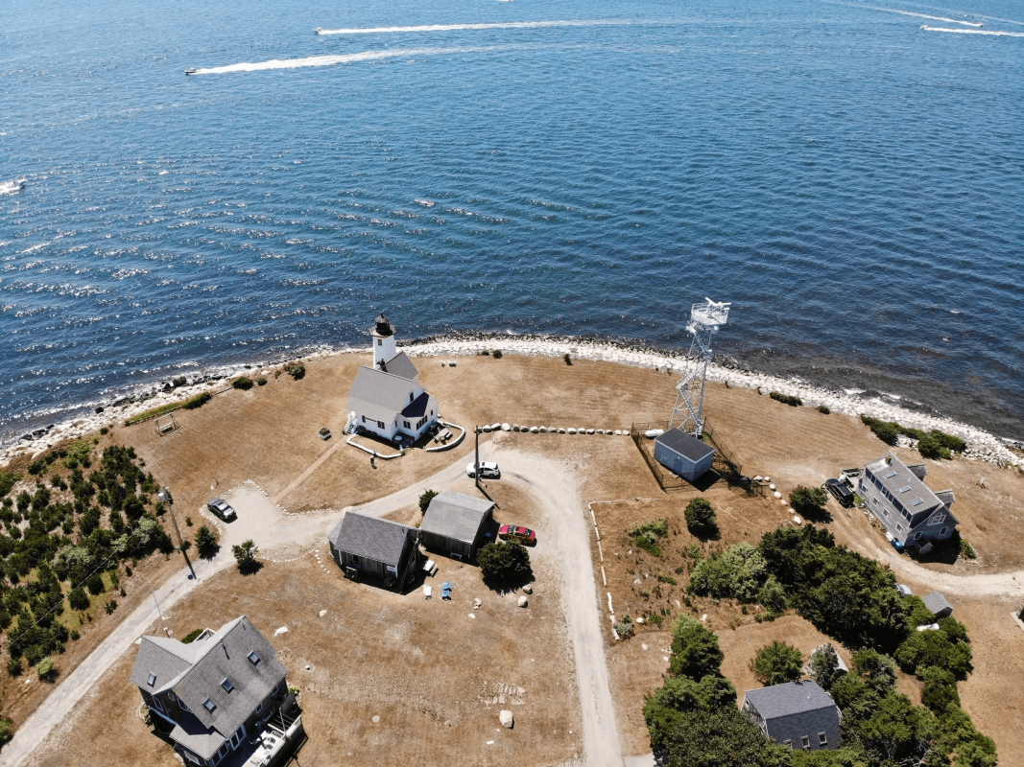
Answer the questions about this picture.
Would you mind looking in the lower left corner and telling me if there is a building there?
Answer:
Yes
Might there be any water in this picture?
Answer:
Yes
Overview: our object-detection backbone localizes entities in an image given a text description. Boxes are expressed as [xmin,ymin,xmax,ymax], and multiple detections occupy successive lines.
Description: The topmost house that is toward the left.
[338,352,441,439]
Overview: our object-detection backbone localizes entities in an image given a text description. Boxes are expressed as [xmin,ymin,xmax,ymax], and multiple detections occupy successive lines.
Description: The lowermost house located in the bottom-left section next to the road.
[122,614,297,767]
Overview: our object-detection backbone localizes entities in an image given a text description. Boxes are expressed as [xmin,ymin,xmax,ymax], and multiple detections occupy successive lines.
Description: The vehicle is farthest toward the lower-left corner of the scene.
[203,493,237,516]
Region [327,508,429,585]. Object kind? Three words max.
shed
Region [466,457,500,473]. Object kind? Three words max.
car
